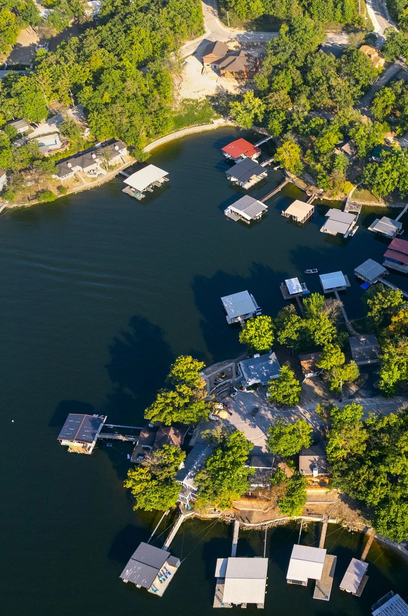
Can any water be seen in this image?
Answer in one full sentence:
Yes, some water is visible.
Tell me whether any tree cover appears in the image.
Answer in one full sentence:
Yes, tree cover shows up in the scene.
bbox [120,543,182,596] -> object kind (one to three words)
pier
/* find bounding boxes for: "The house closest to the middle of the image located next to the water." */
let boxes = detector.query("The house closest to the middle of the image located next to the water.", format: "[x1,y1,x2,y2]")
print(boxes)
[239,352,280,390]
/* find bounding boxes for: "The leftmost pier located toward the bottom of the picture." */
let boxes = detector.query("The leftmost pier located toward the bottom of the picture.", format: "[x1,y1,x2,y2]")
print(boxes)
[57,414,110,454]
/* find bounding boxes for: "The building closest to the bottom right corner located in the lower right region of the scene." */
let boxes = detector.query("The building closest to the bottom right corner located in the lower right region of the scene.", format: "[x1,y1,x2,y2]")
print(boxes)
[299,447,331,478]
